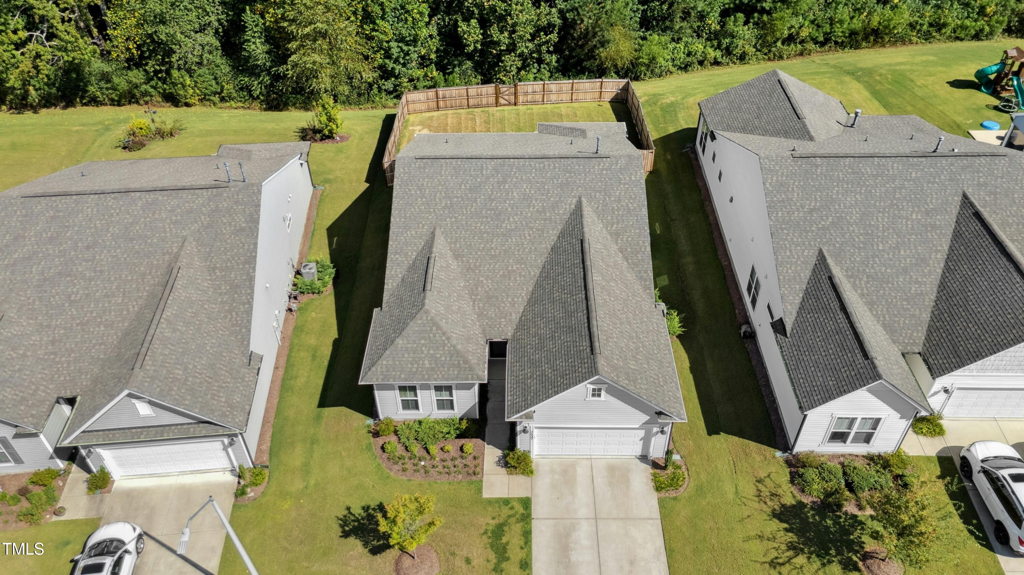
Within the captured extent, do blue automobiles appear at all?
No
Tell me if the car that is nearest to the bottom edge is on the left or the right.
left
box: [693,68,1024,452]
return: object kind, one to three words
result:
house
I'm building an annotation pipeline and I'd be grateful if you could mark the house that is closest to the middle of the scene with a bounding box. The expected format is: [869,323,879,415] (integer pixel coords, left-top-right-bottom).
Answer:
[357,121,689,457]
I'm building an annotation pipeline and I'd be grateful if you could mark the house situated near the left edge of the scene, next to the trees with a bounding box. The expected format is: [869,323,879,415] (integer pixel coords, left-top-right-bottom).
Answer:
[0,141,317,478]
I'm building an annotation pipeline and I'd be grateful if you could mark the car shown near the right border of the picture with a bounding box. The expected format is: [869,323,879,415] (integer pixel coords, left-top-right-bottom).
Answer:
[965,444,1024,557]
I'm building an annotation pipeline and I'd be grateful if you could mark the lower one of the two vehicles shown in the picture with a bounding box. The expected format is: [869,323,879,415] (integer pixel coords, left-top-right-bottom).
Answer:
[71,520,142,575]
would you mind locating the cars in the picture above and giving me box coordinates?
[965,444,1024,557]
[71,520,142,575]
